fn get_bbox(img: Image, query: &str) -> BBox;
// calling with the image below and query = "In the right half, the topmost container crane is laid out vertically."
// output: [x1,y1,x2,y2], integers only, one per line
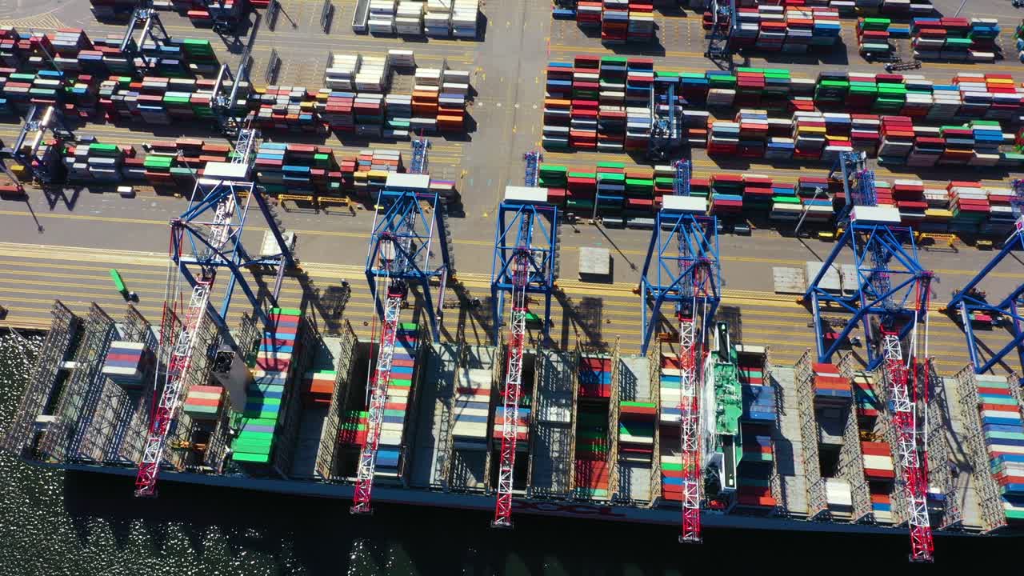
[701,0,735,64]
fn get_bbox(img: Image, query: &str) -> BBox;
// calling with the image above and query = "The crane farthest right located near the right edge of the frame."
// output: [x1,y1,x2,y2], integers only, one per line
[937,178,1024,381]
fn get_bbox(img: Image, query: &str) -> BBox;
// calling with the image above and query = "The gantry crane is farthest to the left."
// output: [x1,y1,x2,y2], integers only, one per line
[14,108,81,188]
